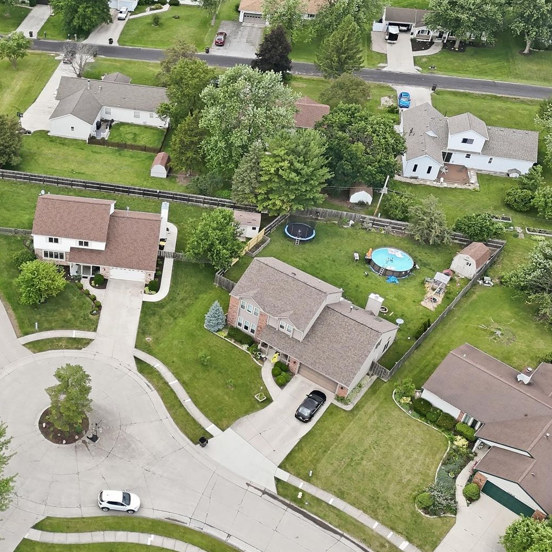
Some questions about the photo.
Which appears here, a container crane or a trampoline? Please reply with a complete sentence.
Visible in the photo is a trampoline.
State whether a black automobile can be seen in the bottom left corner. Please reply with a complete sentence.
No, the scene shows no black automobile in the bottom left corner.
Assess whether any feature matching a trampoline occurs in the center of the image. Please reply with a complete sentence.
Yes, a trampoline can be seen in the center of the image.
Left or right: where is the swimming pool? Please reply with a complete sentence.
The swimming pool appears in the right half of the scene.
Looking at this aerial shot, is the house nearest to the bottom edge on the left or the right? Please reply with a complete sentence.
It is on the right.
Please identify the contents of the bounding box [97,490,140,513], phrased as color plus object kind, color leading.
white car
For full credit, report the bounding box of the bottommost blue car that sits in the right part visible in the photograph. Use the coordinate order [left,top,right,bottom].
[397,91,412,106]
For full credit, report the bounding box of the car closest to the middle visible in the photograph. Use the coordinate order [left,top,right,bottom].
[296,389,329,421]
